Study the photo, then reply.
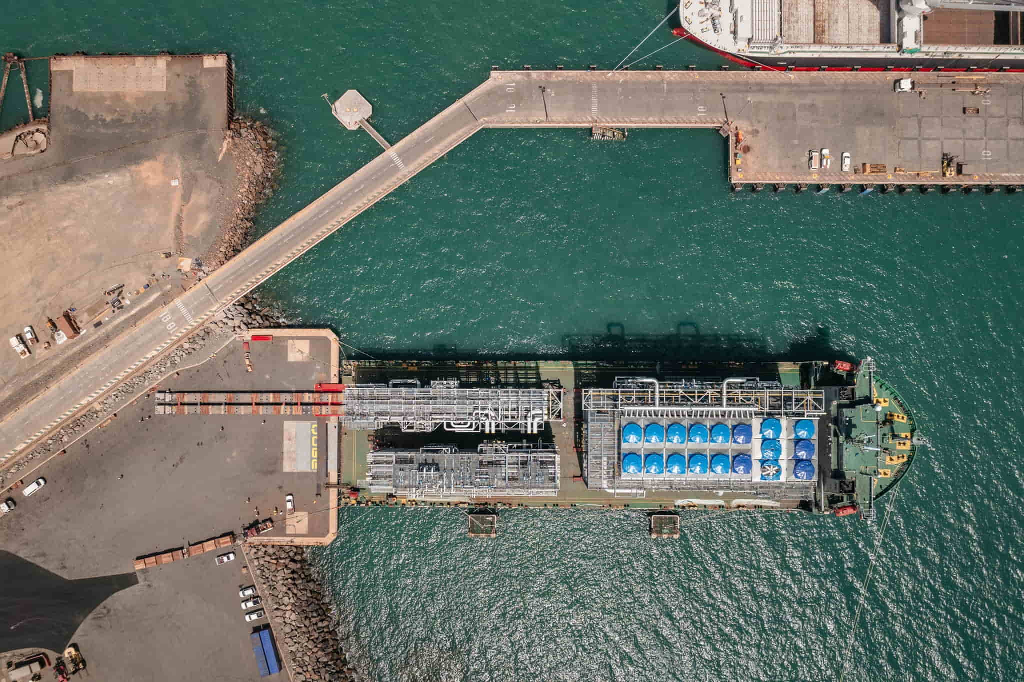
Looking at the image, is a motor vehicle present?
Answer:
Yes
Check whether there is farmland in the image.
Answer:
No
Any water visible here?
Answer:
Yes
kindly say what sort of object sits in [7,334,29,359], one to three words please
truck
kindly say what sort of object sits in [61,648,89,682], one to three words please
work vehicle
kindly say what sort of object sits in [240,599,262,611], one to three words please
vehicle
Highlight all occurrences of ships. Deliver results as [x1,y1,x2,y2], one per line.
[672,0,1024,68]
[342,356,930,524]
